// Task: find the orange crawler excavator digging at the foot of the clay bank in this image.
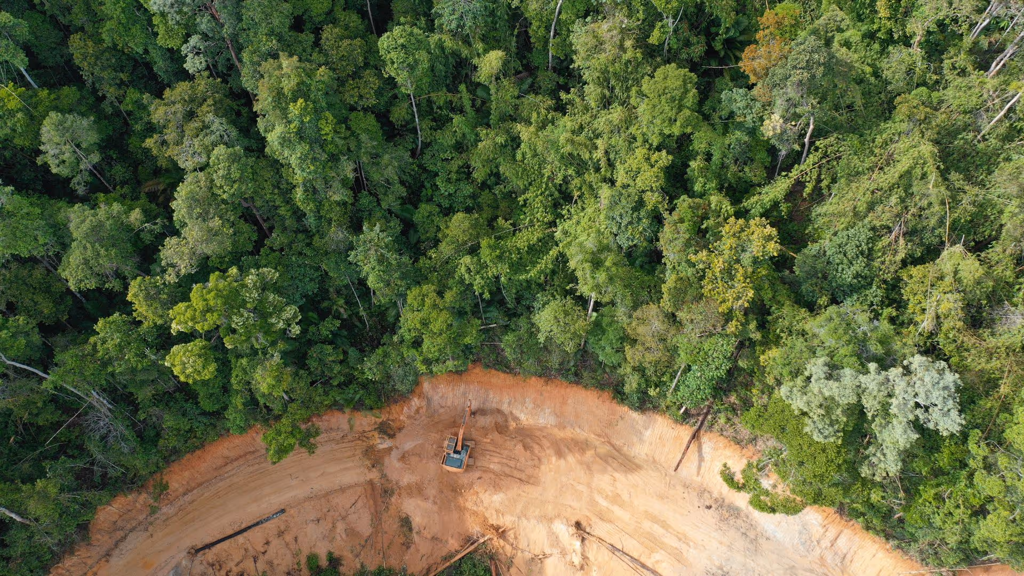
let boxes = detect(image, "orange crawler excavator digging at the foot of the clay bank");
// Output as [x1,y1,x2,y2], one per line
[441,400,480,476]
